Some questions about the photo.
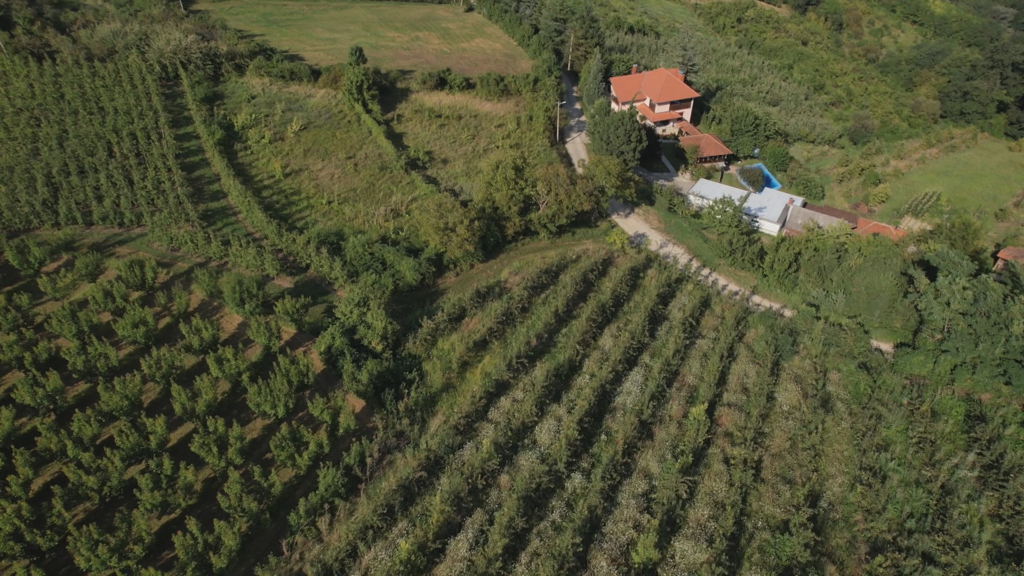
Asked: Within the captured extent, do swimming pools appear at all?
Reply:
Yes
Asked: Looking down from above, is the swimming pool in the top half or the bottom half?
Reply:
top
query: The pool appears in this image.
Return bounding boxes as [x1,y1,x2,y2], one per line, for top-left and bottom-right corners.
[736,163,783,194]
